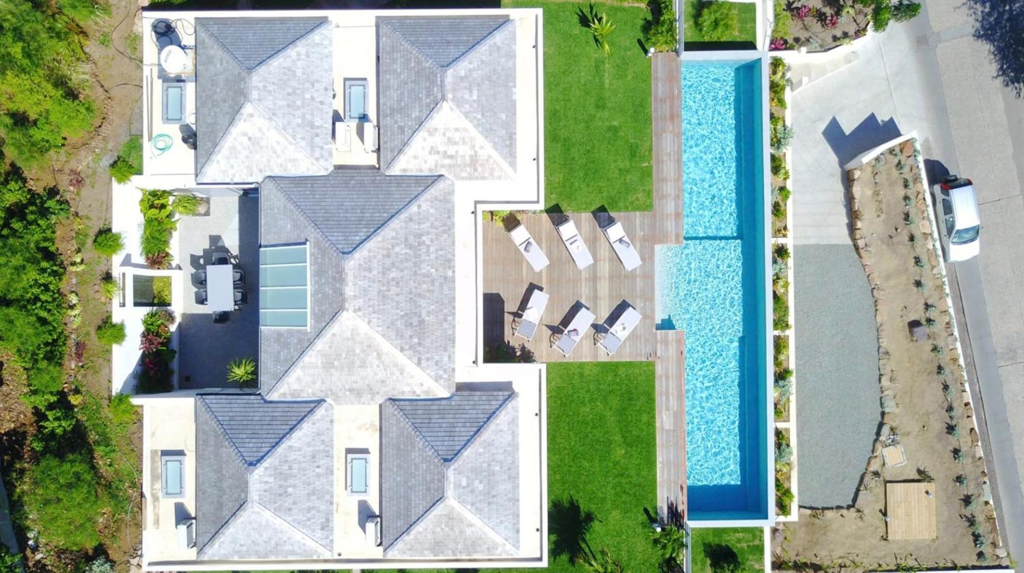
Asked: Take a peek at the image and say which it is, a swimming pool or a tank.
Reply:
swimming pool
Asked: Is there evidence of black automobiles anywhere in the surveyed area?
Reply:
No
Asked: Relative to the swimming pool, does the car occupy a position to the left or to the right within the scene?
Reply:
to the right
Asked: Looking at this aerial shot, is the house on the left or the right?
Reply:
left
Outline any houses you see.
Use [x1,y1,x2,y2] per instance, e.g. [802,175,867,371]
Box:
[141,7,548,570]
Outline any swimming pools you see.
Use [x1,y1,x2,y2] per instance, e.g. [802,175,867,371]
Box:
[675,47,777,531]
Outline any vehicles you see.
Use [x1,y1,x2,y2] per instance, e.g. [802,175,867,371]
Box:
[936,178,986,262]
